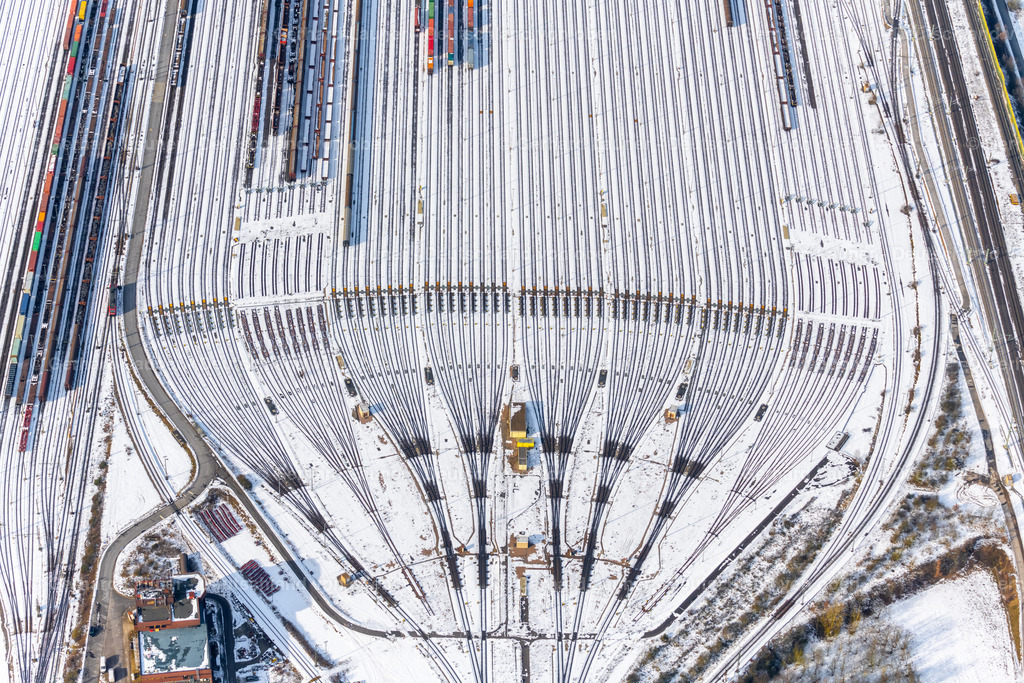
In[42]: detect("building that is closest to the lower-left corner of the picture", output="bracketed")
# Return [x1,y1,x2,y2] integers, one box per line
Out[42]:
[136,554,215,683]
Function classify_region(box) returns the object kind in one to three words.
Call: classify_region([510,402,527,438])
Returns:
building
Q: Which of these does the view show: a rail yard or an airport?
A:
rail yard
